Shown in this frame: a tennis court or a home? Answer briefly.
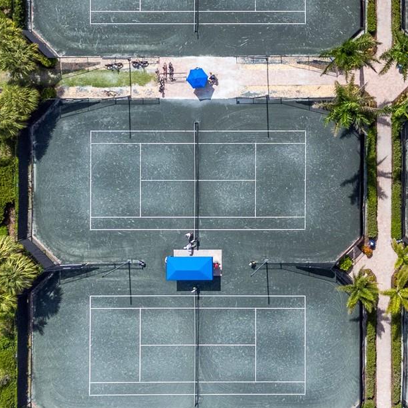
tennis court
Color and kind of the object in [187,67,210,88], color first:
blue umbrella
